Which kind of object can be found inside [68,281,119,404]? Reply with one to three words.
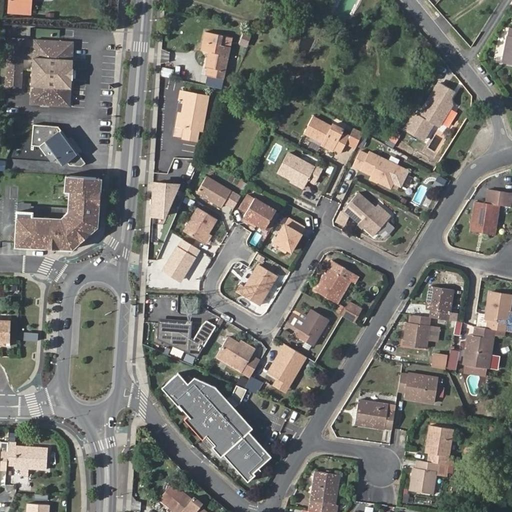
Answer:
roundabout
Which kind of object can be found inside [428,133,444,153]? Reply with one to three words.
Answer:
swimming pool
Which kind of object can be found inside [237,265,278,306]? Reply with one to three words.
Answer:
house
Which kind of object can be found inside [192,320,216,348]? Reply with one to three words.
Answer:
building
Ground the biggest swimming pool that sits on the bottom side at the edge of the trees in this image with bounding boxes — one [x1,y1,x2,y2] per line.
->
[466,376,482,397]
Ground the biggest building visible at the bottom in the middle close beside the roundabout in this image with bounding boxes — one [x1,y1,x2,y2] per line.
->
[161,372,272,483]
